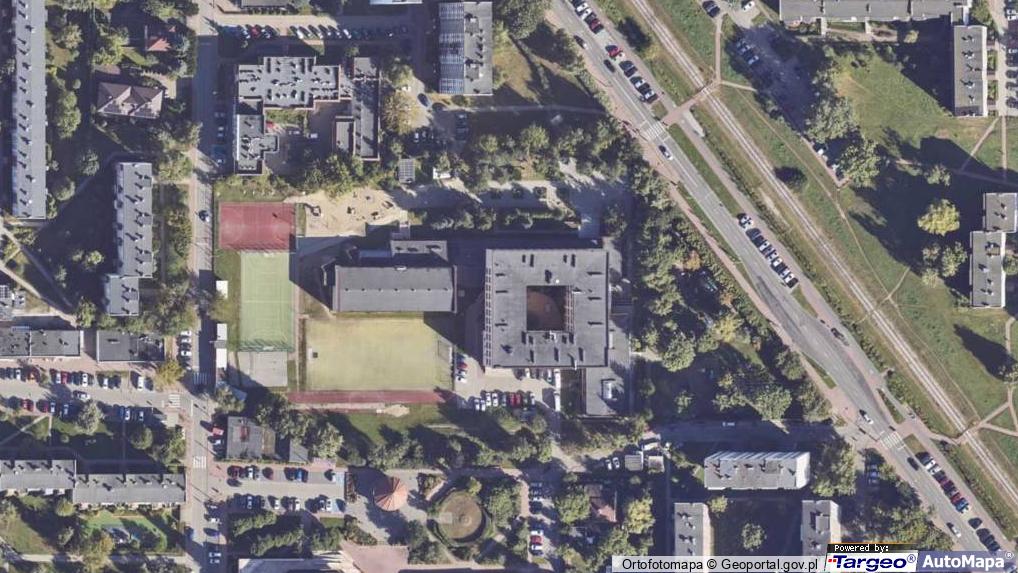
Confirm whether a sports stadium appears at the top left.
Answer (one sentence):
No, no sports stadium appears at the top left.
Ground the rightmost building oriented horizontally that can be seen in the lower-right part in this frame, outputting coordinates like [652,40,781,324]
[703,451,810,490]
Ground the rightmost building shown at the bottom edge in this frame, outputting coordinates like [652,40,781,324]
[797,499,838,573]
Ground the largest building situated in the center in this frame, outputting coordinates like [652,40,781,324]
[484,248,608,371]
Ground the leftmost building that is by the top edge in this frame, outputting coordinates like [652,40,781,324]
[11,0,49,219]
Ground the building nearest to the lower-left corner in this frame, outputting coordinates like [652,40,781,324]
[0,456,77,493]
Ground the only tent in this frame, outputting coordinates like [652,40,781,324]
[373,477,407,510]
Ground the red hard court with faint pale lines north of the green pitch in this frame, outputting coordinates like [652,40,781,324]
[218,202,295,250]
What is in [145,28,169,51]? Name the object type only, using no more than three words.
house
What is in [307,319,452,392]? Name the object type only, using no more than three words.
sports field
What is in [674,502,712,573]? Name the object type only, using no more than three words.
building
